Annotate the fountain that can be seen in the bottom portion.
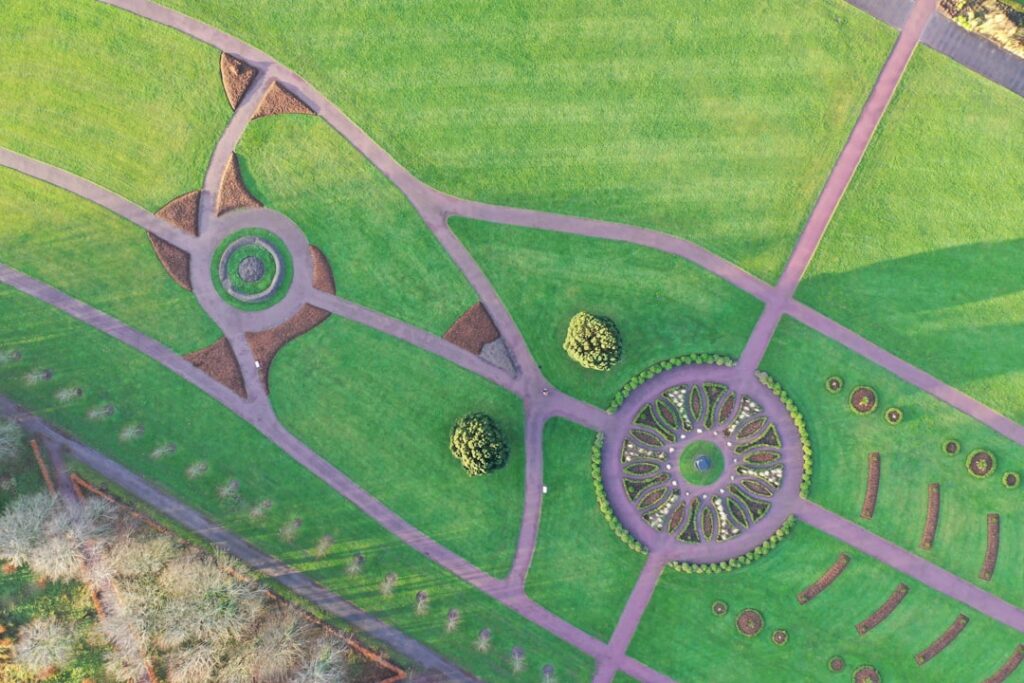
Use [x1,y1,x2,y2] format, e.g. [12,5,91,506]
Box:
[694,455,711,472]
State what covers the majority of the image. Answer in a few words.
grass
